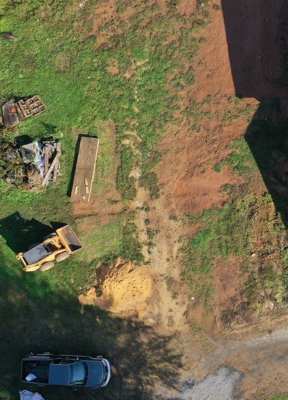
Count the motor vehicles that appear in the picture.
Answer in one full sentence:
Altogether the scene contains 2 motor vehicles.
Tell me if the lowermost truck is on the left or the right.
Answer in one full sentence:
The lowermost truck appears in the left half of the scene.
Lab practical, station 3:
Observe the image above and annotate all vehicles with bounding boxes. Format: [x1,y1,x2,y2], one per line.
[8,224,80,273]
[24,355,115,395]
